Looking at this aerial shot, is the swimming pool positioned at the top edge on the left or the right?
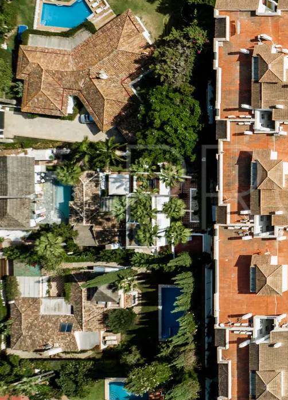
left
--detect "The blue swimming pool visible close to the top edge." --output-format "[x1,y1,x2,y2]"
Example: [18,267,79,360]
[41,0,92,27]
